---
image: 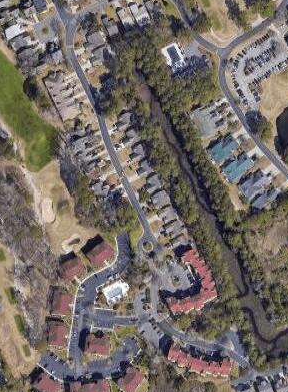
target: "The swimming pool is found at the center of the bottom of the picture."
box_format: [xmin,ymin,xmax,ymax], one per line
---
[103,278,132,303]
